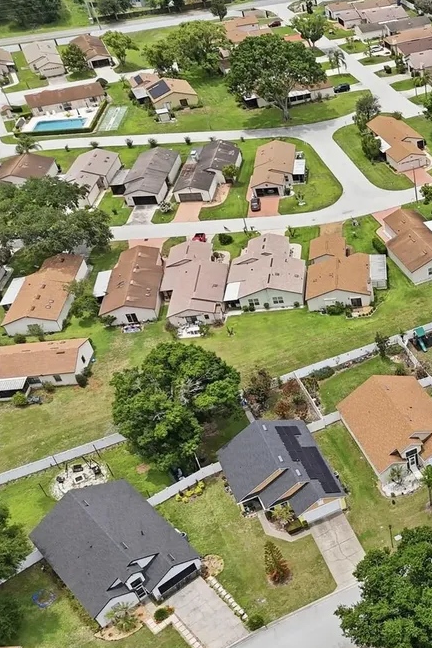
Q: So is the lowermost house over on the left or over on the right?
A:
left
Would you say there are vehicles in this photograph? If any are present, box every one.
[251,193,262,210]
[265,17,282,26]
[367,44,384,52]
[332,80,352,91]
[193,229,206,245]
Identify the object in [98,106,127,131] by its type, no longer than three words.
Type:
sports court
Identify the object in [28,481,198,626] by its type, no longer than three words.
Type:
house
